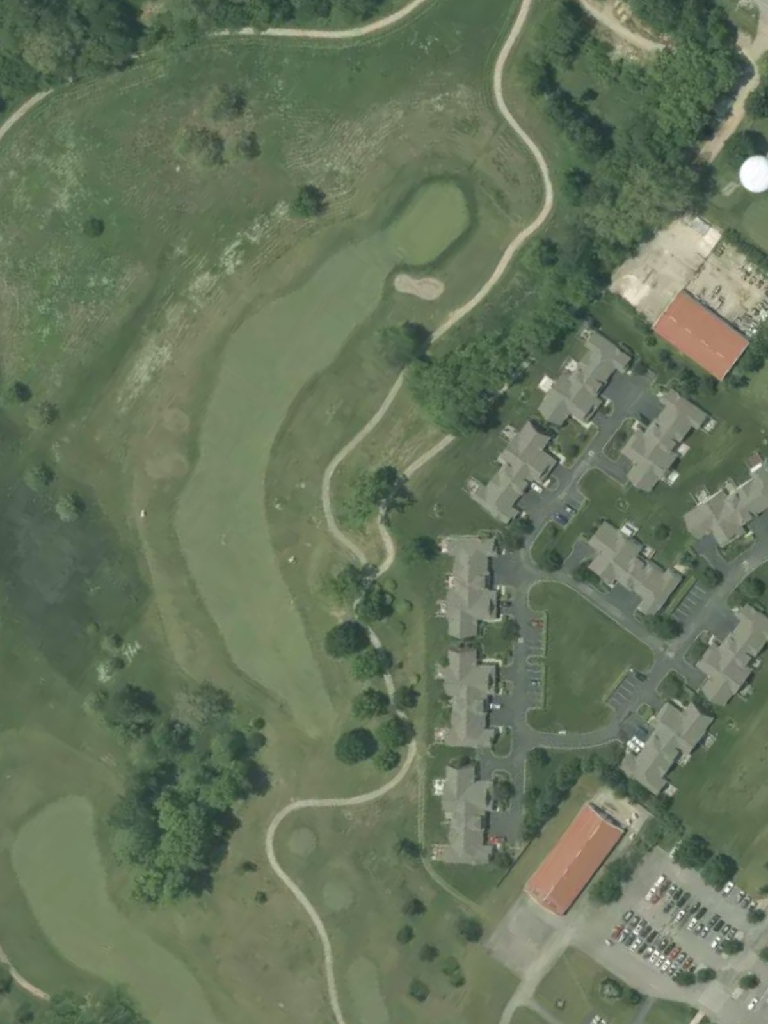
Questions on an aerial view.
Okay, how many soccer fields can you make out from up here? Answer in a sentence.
No soccer fields are visible.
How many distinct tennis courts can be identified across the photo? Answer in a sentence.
The photo contains no tennis courts.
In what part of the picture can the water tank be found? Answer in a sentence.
The water tank is in the top right part of the image.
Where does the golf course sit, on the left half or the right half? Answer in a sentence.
The golf course sits on the left side.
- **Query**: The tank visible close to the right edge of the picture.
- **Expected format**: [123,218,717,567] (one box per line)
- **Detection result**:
[734,147,768,190]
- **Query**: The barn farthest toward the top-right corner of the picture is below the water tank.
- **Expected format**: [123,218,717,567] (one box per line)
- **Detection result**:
[654,289,751,380]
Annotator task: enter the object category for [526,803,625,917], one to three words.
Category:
barn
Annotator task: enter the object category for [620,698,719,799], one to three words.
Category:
house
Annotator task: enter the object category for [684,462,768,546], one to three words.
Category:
house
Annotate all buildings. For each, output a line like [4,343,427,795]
[620,698,719,799]
[435,537,500,642]
[698,599,768,707]
[433,647,498,752]
[684,462,768,546]
[654,289,751,380]
[430,762,496,868]
[463,416,558,524]
[621,387,717,495]
[526,803,625,917]
[586,518,688,617]
[535,326,636,427]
